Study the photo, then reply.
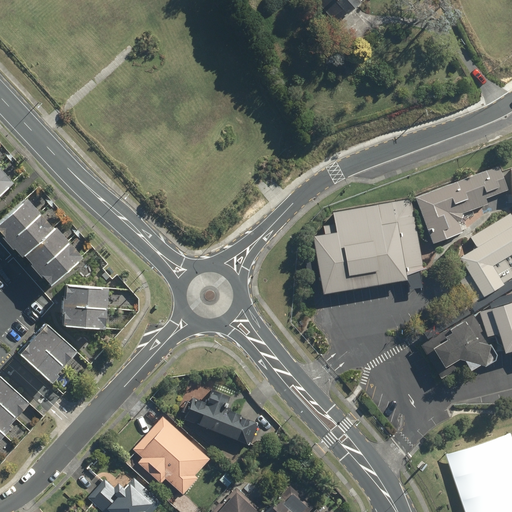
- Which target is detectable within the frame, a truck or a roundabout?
roundabout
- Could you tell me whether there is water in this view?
No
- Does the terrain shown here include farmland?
Yes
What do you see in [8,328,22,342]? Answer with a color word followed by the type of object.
blue car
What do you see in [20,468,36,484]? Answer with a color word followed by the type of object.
white car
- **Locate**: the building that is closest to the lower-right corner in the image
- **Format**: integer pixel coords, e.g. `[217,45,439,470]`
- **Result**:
[447,434,512,512]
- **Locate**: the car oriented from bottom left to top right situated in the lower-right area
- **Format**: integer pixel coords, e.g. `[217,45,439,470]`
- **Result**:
[383,400,398,418]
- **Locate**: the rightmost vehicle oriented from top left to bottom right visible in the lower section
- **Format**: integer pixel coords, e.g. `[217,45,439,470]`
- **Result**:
[256,414,272,430]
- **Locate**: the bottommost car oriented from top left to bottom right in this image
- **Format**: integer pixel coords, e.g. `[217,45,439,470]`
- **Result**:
[77,474,92,489]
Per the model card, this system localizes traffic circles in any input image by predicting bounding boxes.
[186,272,234,319]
